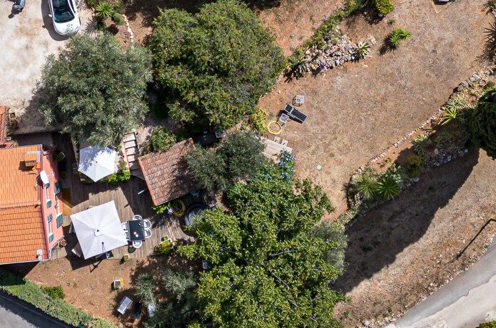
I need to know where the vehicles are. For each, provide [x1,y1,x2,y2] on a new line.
[50,0,83,39]
[11,0,22,10]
